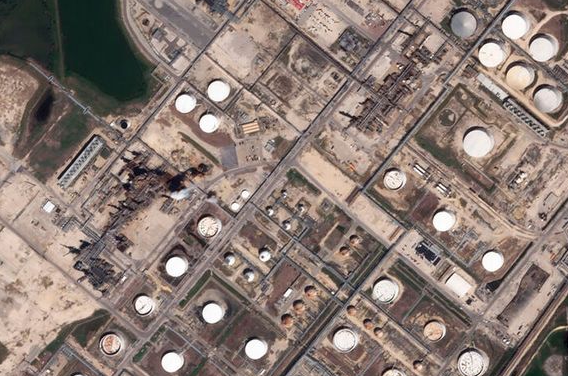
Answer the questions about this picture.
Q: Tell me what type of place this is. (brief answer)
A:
industrial area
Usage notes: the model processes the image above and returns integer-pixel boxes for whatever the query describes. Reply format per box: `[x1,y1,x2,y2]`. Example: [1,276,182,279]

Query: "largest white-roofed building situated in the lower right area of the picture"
[446,272,472,296]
